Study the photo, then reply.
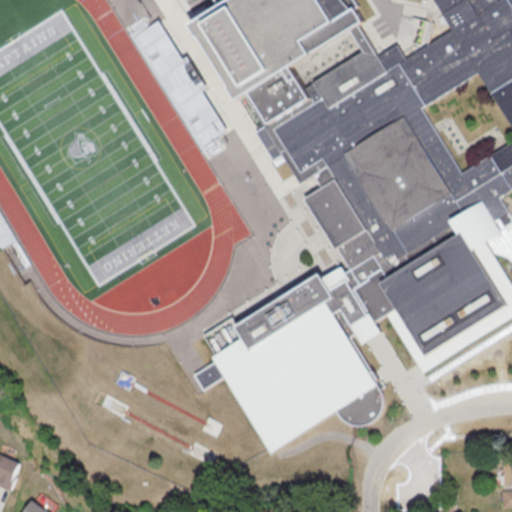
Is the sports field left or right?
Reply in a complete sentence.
The sports field appears in the left half of the scene.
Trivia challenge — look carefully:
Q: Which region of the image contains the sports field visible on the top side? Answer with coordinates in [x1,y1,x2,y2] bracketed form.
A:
[0,0,212,300]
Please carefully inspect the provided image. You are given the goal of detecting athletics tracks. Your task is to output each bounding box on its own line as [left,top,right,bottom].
[0,0,251,336]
